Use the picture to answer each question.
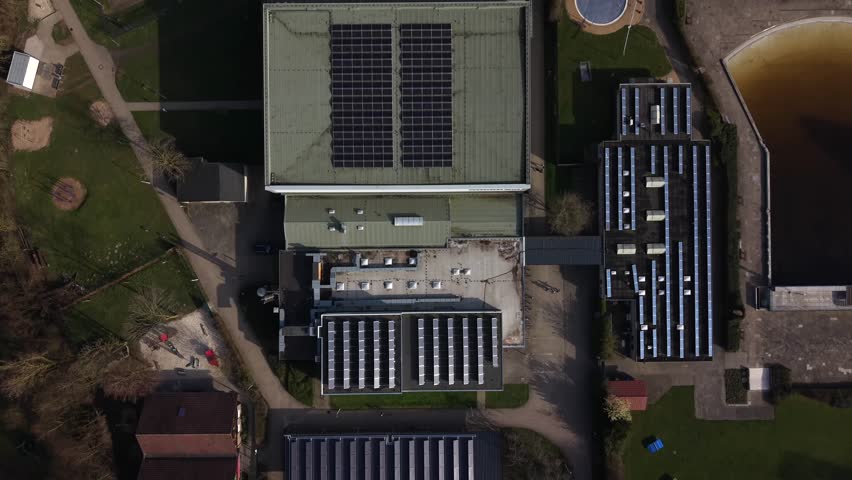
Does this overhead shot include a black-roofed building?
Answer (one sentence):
Yes, a black-roofed building is visible in the scene.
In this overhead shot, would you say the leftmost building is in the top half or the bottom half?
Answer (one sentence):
You can find the leftmost building in the top half.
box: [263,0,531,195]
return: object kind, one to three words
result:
building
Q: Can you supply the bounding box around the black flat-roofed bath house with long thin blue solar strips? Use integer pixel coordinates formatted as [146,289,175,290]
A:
[595,78,714,360]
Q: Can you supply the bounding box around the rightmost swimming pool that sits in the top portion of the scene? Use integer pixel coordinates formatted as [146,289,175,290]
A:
[725,14,852,287]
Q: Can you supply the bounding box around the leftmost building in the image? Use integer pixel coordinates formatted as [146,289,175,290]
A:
[7,51,48,92]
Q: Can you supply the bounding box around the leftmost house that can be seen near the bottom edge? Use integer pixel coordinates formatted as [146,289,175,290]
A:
[133,388,243,480]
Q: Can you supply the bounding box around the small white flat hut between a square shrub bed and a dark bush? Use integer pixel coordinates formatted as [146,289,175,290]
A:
[743,365,770,390]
